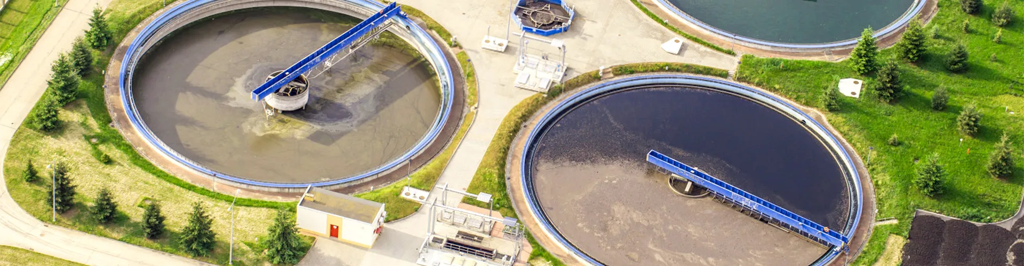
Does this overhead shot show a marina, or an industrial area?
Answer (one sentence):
The area seen from above is an industrial area.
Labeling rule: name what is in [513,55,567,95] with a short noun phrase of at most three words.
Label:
building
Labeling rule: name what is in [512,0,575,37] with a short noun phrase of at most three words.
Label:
storage tank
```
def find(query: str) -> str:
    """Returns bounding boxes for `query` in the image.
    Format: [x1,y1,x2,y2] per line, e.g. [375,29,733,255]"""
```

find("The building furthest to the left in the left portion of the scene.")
[297,183,385,248]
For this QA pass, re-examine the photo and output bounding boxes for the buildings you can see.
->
[513,55,567,95]
[297,183,385,248]
[415,210,521,266]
